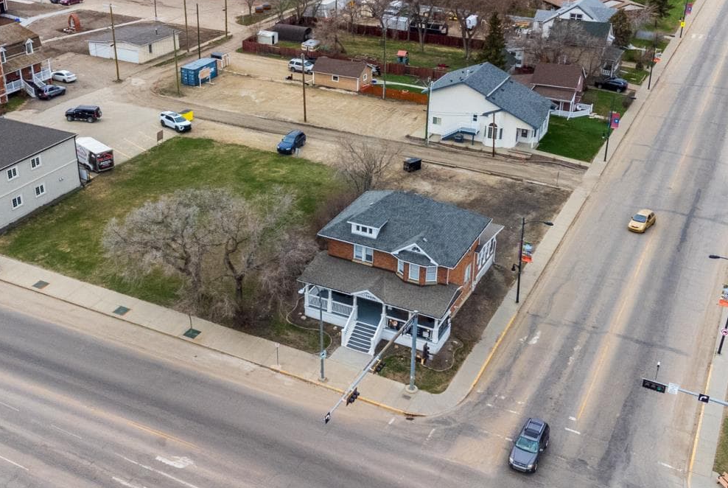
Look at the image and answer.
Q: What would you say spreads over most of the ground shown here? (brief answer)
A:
paved ground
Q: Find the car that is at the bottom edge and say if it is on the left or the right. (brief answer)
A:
right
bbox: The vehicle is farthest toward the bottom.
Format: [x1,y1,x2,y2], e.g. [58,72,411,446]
[510,409,559,472]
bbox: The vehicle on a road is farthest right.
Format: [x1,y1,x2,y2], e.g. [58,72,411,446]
[628,203,661,231]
